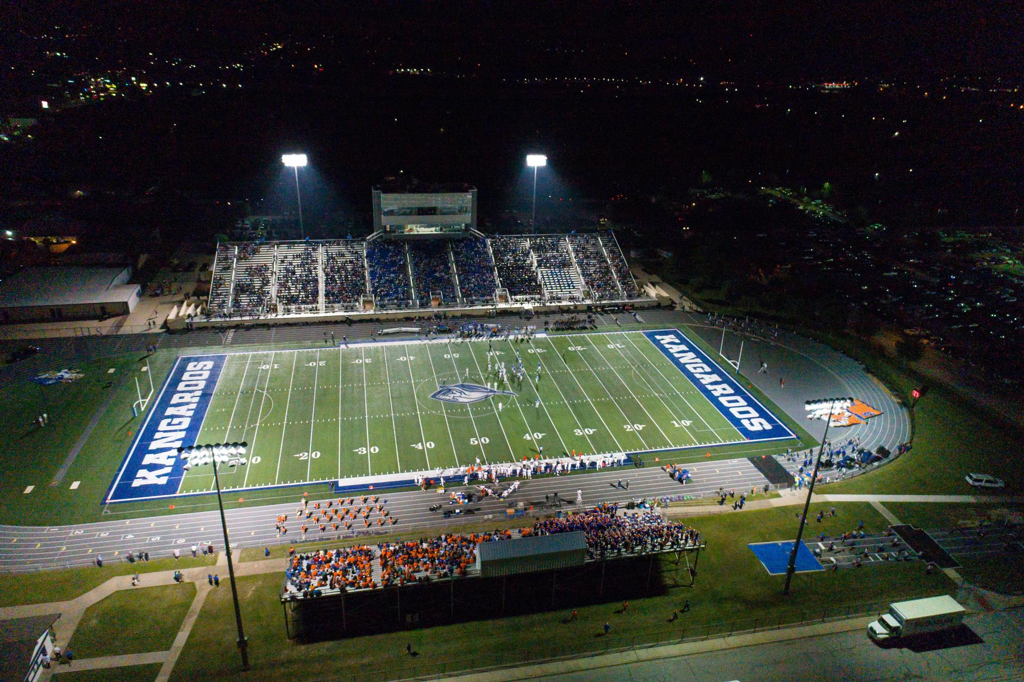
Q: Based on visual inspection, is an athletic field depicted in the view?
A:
Yes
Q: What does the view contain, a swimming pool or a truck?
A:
truck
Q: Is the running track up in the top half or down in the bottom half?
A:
bottom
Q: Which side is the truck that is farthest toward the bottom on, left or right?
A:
right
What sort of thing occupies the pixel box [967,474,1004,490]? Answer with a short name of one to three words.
car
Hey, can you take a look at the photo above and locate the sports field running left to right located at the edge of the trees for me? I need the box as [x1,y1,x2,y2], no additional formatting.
[67,324,822,523]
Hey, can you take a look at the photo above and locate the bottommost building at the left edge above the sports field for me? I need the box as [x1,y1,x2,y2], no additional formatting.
[0,266,142,319]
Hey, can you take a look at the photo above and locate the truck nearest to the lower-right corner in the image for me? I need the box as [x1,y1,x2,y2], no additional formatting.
[861,593,965,647]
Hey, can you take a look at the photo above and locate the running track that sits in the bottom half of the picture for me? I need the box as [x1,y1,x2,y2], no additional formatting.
[0,311,915,576]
